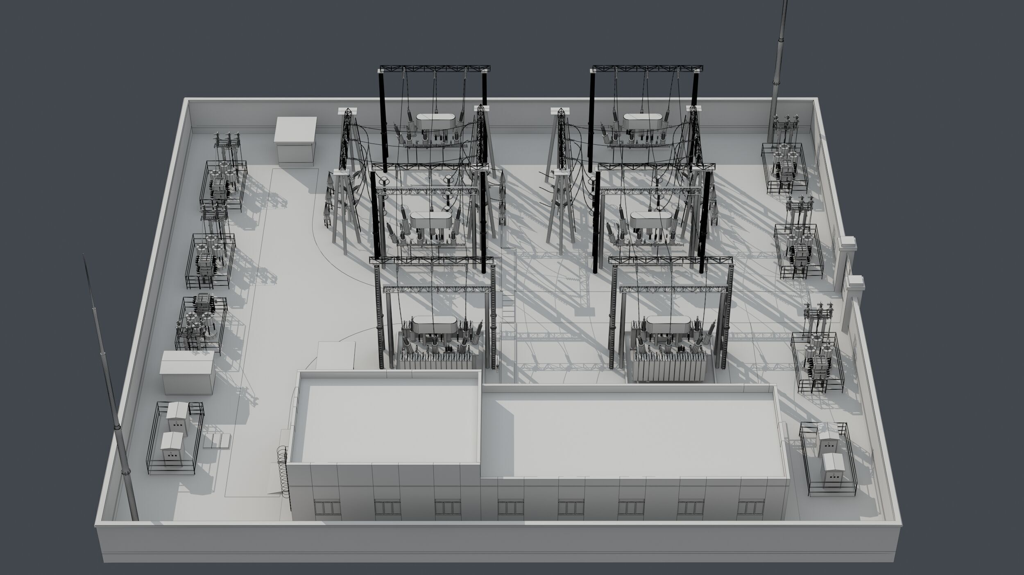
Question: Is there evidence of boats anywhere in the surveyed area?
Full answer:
No, the scene contains no boat.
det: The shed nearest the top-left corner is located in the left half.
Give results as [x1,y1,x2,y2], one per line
[273,116,318,166]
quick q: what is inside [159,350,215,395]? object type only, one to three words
shed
